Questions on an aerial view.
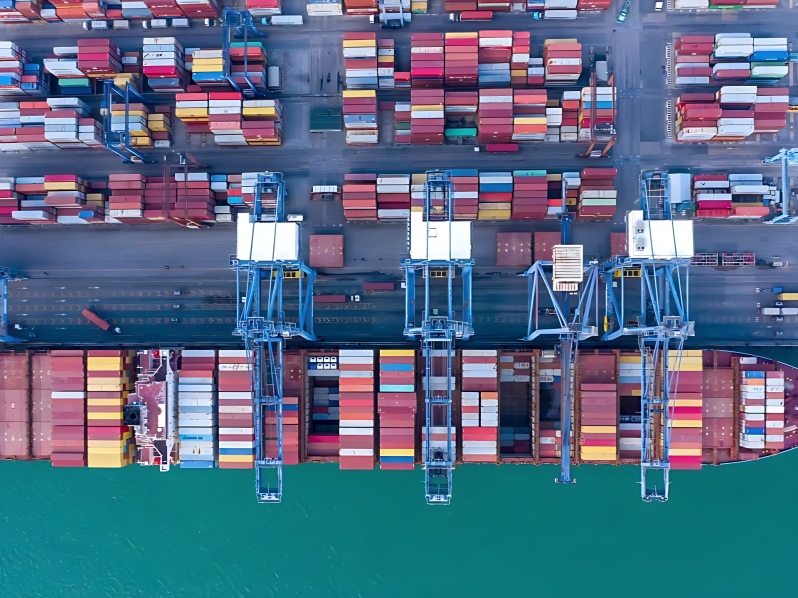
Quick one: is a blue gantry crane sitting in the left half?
Yes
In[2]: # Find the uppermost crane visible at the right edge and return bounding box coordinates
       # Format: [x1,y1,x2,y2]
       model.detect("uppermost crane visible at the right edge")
[758,143,798,228]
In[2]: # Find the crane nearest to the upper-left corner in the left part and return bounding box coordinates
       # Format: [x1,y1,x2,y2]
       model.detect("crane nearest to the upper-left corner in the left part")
[103,80,159,165]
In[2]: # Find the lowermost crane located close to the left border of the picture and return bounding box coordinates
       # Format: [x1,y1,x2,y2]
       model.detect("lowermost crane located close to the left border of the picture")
[0,265,31,338]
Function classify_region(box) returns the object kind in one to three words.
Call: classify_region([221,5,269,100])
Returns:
crane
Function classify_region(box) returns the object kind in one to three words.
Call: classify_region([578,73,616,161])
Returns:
crane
